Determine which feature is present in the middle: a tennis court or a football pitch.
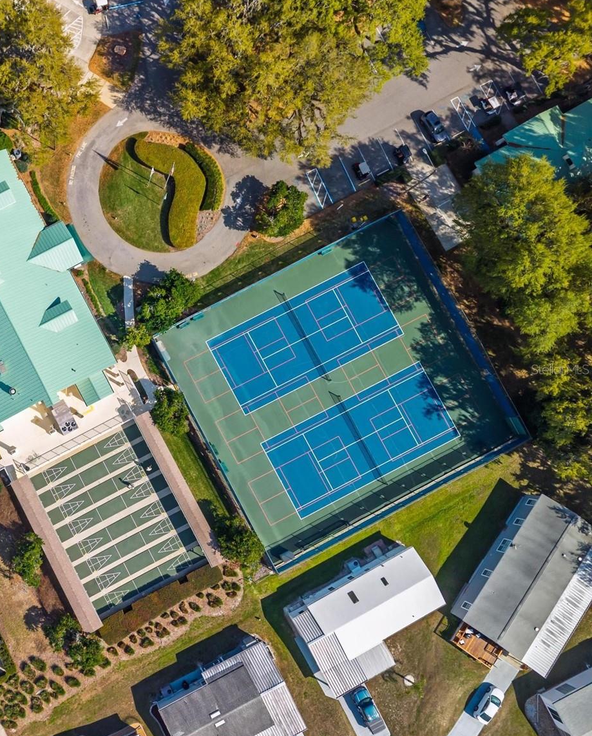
tennis court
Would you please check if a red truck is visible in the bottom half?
No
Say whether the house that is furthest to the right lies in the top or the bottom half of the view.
bottom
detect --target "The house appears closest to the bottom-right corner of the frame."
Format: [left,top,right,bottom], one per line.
[541,667,592,736]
